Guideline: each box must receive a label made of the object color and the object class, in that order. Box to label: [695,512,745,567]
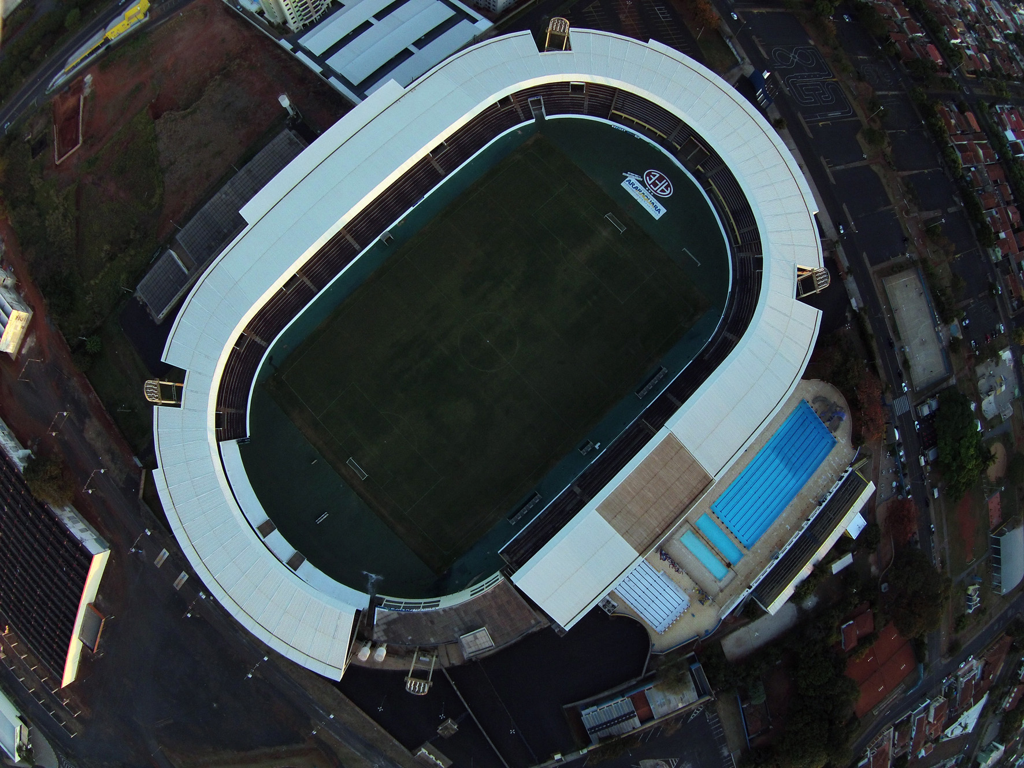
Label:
blue swimming pool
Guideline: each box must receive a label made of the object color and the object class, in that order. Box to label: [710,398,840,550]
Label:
blue swimming pool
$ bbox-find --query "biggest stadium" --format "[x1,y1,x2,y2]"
[153,28,823,681]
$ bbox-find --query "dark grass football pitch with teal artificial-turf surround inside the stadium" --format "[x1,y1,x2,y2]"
[241,119,727,599]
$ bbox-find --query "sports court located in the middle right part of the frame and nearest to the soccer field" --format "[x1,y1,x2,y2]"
[878,268,950,392]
